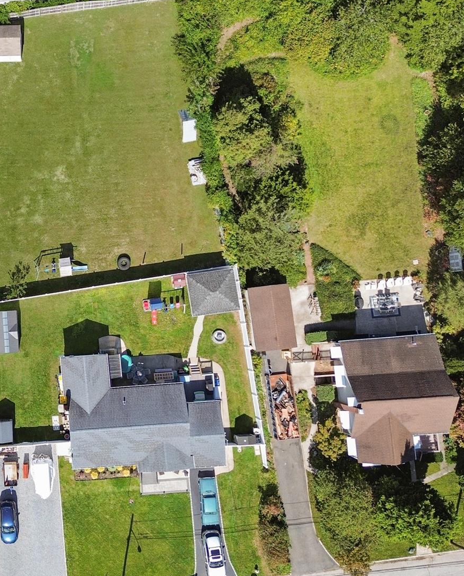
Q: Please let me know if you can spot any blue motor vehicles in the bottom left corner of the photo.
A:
Yes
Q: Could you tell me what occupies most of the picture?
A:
grass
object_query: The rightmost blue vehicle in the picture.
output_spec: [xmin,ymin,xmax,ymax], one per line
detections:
[198,474,221,525]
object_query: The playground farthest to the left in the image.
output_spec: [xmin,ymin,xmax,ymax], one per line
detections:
[37,256,88,278]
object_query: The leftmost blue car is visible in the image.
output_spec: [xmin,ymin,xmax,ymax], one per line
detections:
[0,498,19,542]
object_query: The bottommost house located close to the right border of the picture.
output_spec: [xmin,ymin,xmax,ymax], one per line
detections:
[328,334,459,468]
